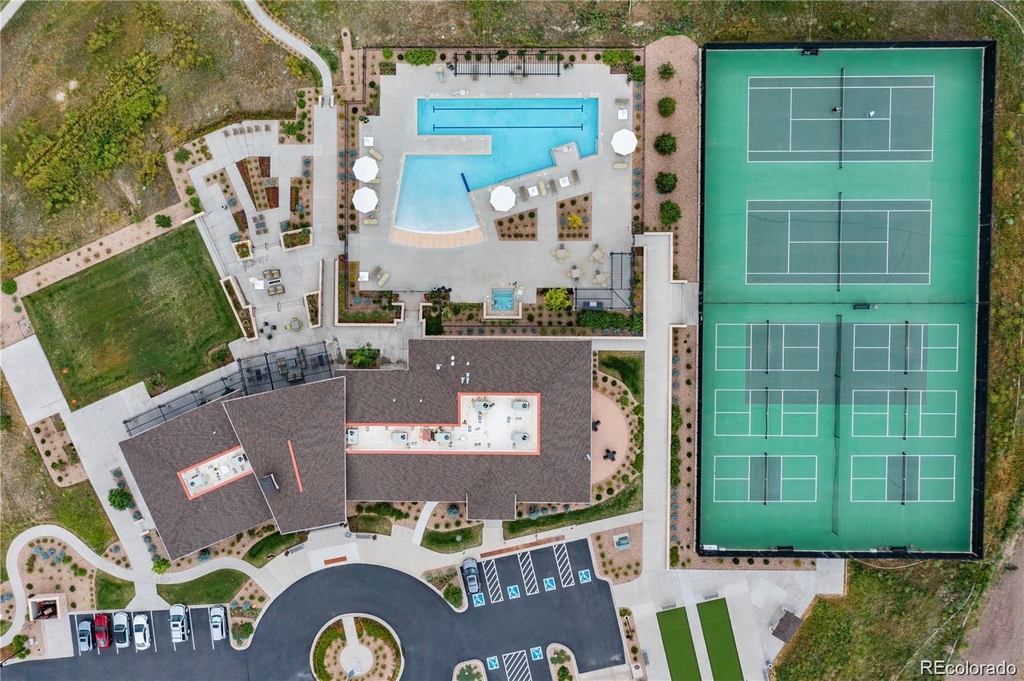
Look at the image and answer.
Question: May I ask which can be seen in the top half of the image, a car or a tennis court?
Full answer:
There is a tennis court in the top half of the image.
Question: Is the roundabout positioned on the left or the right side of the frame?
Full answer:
It is on the left.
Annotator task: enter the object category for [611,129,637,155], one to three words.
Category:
umbrella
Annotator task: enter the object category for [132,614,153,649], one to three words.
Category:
car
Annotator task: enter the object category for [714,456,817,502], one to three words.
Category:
sports court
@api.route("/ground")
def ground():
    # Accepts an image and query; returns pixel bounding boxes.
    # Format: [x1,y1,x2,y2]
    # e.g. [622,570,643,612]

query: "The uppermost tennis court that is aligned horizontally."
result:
[748,75,935,162]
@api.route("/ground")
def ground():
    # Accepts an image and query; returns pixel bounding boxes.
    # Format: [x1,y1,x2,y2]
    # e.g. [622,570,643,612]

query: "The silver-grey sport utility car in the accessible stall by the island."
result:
[463,557,481,595]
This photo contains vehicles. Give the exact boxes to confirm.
[463,557,481,595]
[76,620,97,652]
[168,603,189,643]
[93,613,114,648]
[112,612,133,648]
[208,604,229,641]
[132,614,153,649]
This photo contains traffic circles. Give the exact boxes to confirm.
[310,613,405,681]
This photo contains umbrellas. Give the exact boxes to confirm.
[352,155,378,181]
[352,187,378,213]
[611,129,637,155]
[490,186,515,211]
